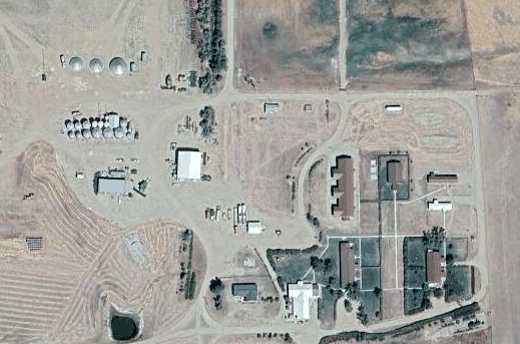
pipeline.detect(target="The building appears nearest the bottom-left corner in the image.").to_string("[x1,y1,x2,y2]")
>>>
[95,172,126,195]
